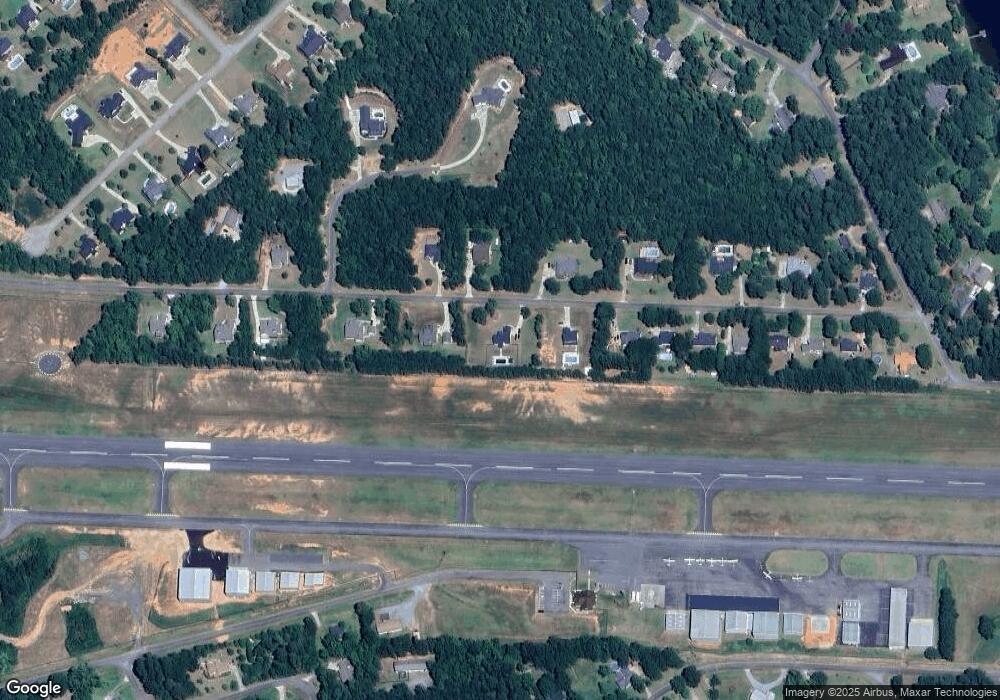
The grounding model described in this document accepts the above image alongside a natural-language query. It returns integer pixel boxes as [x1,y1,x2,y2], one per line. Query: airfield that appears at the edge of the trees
[0,433,1000,646]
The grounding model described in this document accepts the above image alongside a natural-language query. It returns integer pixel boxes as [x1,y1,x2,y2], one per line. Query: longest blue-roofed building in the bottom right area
[689,594,779,613]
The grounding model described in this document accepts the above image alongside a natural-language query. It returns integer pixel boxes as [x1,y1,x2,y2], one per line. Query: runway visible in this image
[0,433,1000,500]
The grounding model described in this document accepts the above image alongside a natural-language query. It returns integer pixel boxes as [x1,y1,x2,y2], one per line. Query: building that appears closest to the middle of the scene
[492,326,514,347]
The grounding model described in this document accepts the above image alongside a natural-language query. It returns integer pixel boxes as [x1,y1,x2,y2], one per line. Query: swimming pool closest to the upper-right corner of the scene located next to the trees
[903,43,921,61]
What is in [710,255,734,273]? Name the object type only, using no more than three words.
house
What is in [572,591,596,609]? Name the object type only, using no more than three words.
building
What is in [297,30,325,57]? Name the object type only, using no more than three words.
house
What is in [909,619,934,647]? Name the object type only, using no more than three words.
hangar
